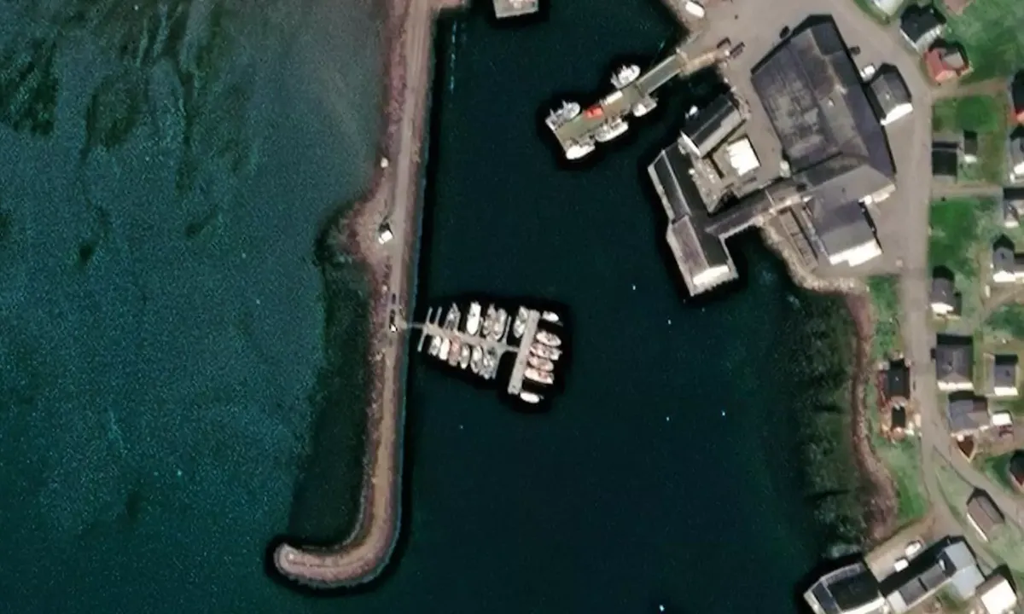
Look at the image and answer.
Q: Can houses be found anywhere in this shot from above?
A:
Yes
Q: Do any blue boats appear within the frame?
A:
No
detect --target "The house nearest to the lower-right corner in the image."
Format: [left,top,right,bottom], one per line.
[976,575,1018,614]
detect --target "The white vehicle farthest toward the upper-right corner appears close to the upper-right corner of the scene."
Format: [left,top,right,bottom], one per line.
[860,63,876,80]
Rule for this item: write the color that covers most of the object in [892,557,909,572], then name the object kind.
white vehicle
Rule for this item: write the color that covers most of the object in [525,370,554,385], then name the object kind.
white boat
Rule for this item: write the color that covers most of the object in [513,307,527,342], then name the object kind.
white boat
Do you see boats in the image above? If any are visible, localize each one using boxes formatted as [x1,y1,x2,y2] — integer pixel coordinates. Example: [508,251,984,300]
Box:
[531,345,563,359]
[609,65,640,88]
[492,308,505,340]
[536,332,563,348]
[520,392,539,402]
[481,305,494,336]
[685,105,698,116]
[482,350,494,380]
[542,311,560,322]
[471,344,482,373]
[545,104,581,132]
[632,97,658,114]
[467,303,480,335]
[595,118,631,143]
[567,140,598,158]
[461,343,470,370]
[440,338,451,361]
[444,303,458,330]
[429,335,441,356]
[525,370,554,385]
[449,336,461,367]
[528,356,556,371]
[513,307,527,342]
